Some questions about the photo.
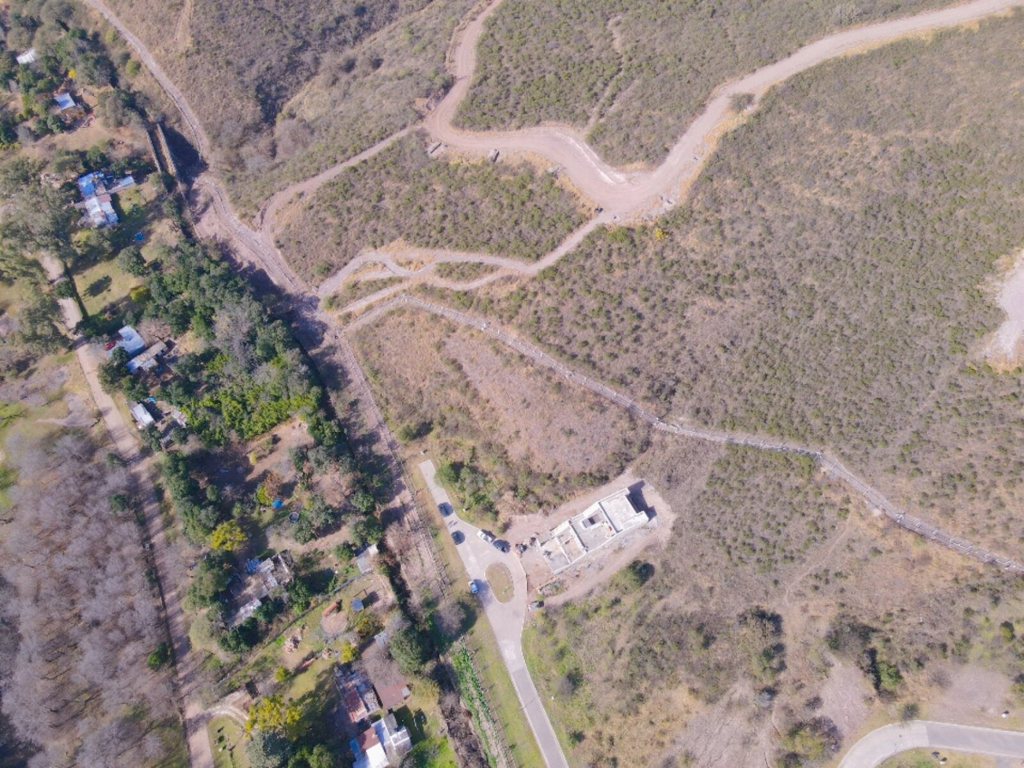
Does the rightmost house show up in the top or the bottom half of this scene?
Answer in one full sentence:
Seen from above, the rightmost house lies in the bottom half of the view.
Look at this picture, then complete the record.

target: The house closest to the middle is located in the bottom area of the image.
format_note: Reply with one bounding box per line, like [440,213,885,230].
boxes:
[536,485,648,574]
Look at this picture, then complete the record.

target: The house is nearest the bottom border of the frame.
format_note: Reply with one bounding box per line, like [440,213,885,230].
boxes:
[349,710,411,768]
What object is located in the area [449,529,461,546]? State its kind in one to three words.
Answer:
vehicle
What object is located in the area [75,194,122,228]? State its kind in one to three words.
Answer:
house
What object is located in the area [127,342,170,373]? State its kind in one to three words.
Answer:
shed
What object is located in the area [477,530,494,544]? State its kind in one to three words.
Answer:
vehicle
